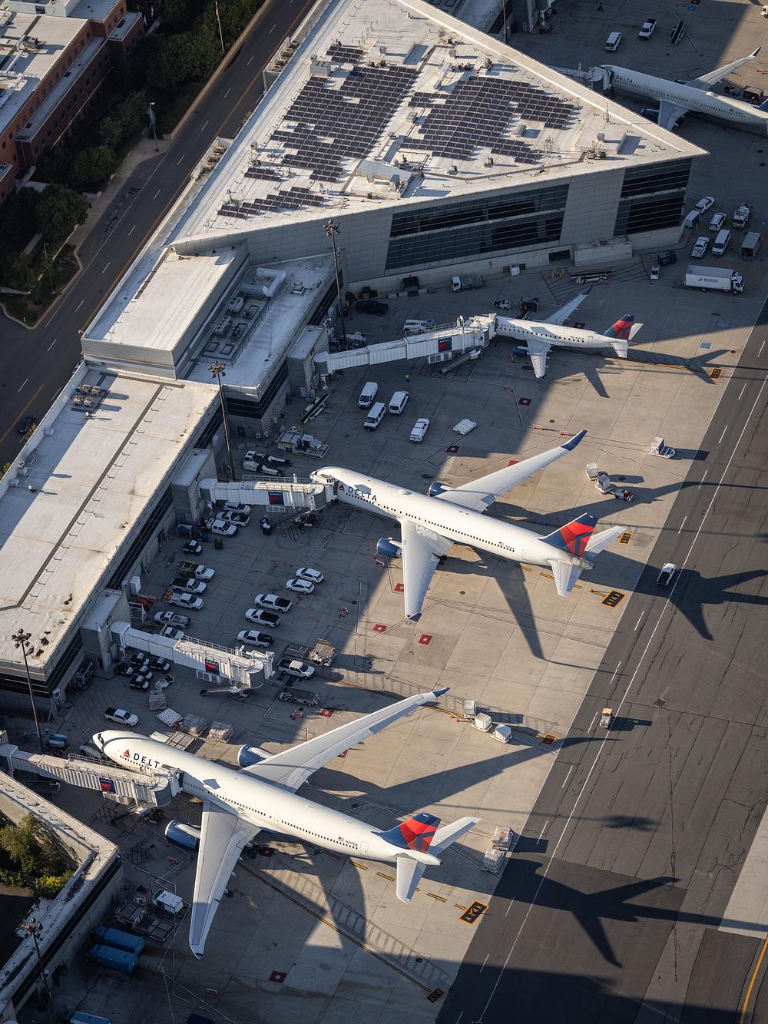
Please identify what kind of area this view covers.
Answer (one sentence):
It's an airport.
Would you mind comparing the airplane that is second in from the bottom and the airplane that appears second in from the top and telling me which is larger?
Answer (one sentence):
The airplane that is second in from the bottom takes up more space than the airplane that appears second in from the top does.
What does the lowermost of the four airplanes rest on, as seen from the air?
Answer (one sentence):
From above, the lowermost of the four airplanes can be seen on the apron.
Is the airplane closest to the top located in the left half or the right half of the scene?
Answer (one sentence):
The airplane closest to the top appears in the right half of the scene.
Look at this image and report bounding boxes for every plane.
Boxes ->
[310,430,626,616]
[91,681,478,953]
[470,281,644,378]
[596,42,768,133]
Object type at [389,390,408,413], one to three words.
vehicle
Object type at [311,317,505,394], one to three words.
jet bridge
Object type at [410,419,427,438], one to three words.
car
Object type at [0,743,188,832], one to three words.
jet bridge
